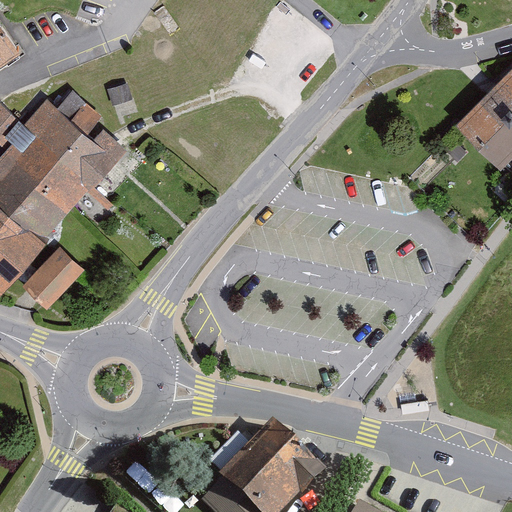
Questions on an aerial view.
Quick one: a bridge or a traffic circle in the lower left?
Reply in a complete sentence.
It is a traffic circle that can be seen in the lower left.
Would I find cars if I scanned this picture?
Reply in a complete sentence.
Yes, you can see a car in this photo.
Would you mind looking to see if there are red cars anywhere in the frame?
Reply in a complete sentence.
Yes, this view includes a red car.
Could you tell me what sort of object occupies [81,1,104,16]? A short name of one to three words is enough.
car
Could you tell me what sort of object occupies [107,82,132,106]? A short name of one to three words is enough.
shed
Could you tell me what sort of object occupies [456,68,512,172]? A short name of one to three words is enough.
house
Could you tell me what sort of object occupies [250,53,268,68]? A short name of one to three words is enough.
vehicle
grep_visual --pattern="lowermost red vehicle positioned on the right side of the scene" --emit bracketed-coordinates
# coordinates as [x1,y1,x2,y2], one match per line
[394,240,417,258]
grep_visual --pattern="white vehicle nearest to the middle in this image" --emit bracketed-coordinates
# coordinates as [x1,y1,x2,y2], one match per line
[328,220,346,240]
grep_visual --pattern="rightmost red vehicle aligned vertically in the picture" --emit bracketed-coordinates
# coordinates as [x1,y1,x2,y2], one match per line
[344,176,356,198]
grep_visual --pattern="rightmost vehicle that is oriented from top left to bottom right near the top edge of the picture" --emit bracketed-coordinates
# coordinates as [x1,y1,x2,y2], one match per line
[312,8,333,30]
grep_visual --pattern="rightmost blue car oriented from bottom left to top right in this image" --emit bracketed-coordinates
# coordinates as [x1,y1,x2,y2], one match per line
[352,323,373,343]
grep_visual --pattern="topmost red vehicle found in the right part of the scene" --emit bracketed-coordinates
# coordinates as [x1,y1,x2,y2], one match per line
[298,62,317,82]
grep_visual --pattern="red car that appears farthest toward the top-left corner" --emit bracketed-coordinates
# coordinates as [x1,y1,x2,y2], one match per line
[37,16,54,37]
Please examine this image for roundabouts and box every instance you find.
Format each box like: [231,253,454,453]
[88,358,142,412]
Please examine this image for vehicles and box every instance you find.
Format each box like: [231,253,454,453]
[288,496,304,512]
[372,180,386,206]
[254,206,274,226]
[352,323,373,343]
[26,20,42,41]
[319,366,332,389]
[424,497,442,512]
[364,328,386,348]
[328,220,346,240]
[124,118,148,134]
[150,107,174,123]
[366,250,378,274]
[494,42,512,56]
[312,8,333,30]
[394,240,417,258]
[380,476,396,496]
[403,488,419,510]
[81,1,104,16]
[298,62,317,82]
[416,248,432,274]
[306,441,326,461]
[344,176,356,198]
[434,452,455,466]
[240,276,260,297]
[37,16,54,37]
